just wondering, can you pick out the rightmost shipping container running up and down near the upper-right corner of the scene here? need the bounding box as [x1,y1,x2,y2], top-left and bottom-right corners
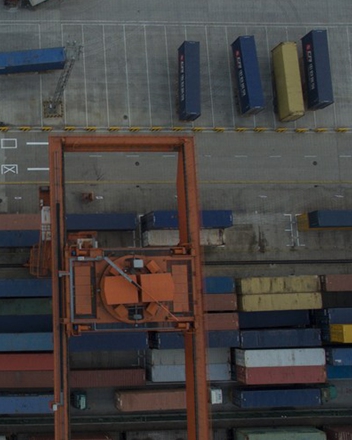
[301,30,333,109]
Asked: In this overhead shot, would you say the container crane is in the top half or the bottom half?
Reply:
bottom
